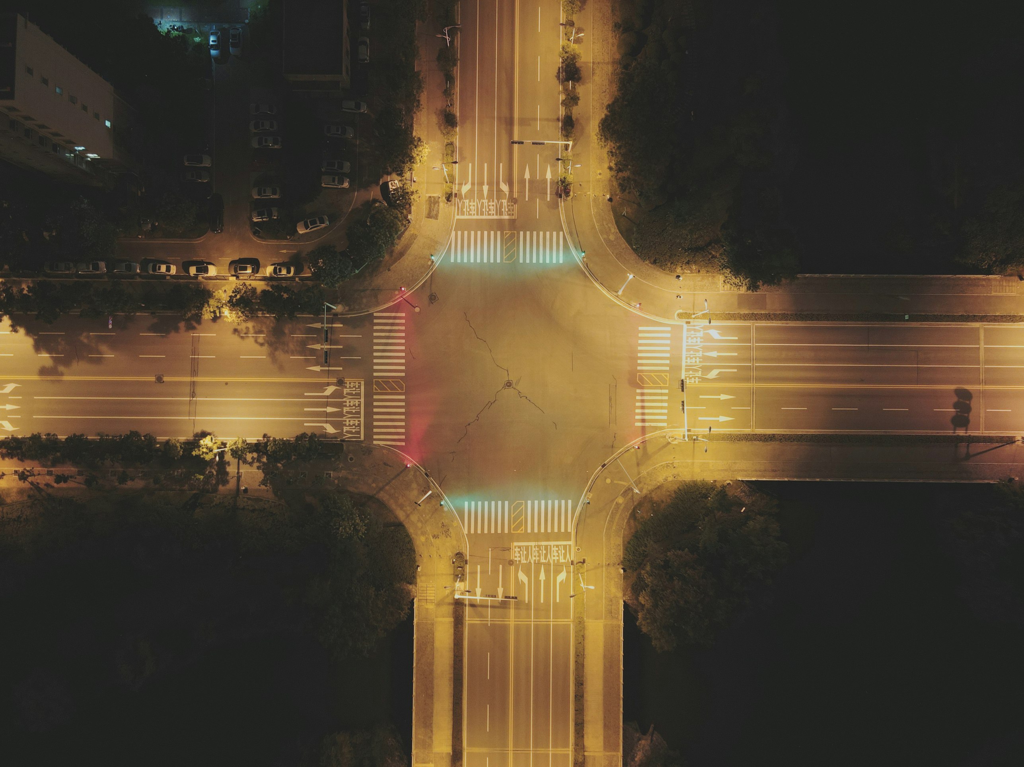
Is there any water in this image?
Yes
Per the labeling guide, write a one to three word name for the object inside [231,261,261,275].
car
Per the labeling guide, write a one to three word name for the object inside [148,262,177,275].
vehicle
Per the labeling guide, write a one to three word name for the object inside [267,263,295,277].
car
